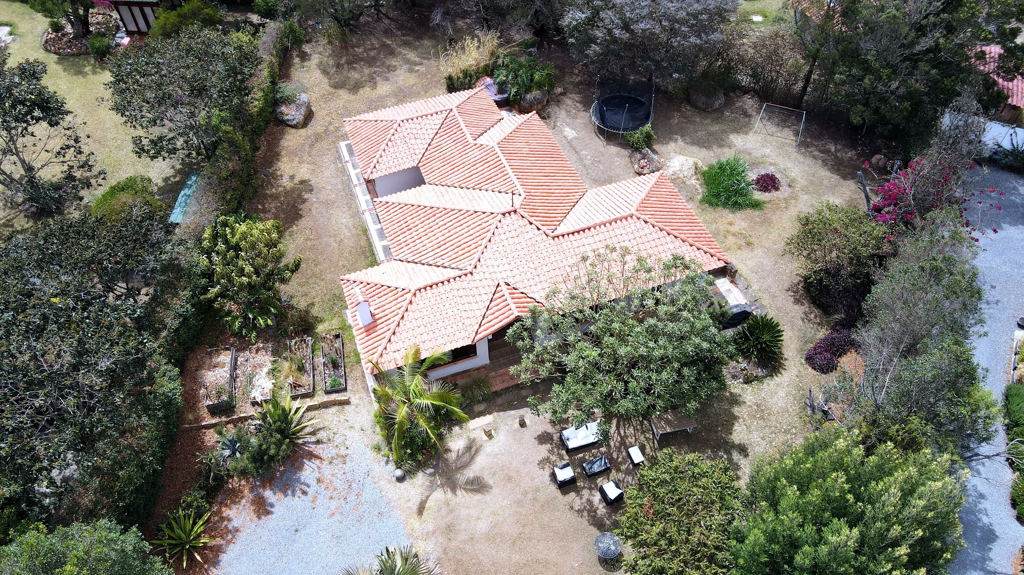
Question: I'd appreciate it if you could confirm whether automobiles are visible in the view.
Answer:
No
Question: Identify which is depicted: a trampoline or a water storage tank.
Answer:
trampoline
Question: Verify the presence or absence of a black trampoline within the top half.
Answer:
Yes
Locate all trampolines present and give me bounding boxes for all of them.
[590,69,656,144]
